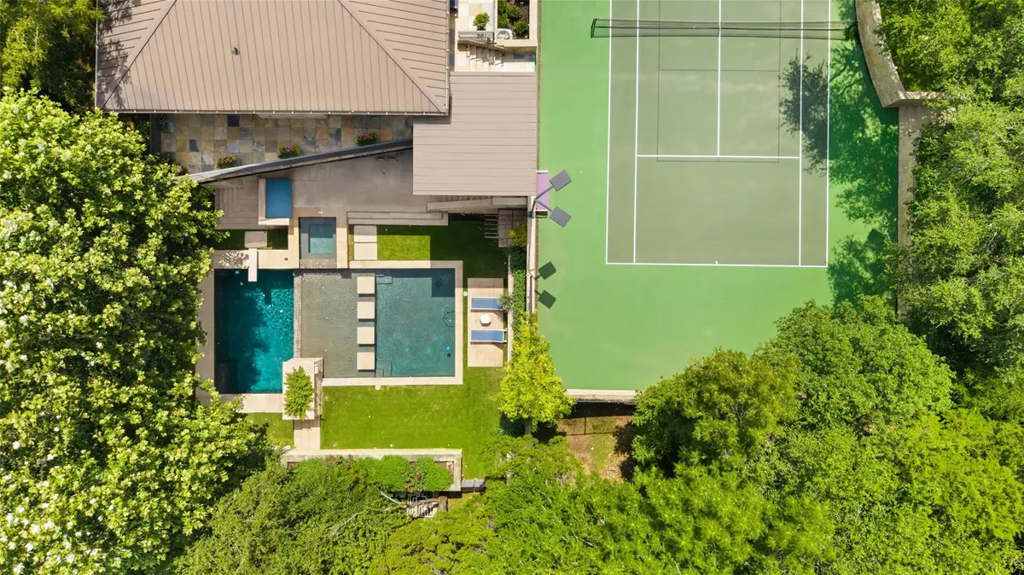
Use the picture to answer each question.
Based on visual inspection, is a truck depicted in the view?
No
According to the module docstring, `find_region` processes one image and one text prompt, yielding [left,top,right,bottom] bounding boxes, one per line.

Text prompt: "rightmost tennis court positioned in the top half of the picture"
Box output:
[540,0,899,390]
